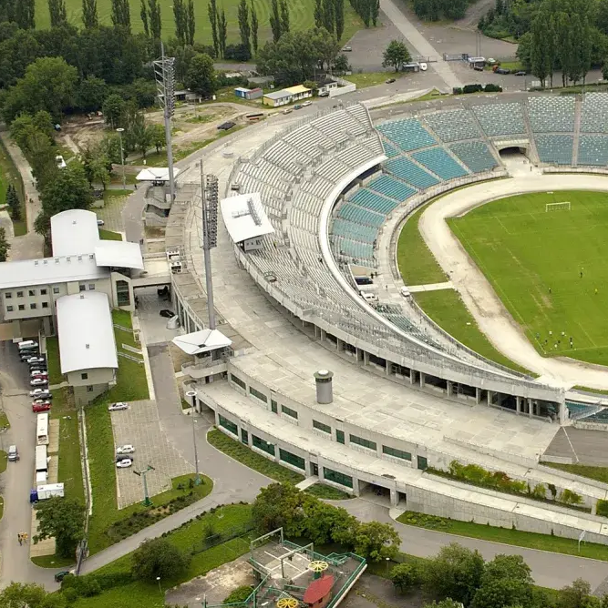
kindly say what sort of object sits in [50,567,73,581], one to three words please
vehicle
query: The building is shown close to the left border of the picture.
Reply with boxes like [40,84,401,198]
[0,208,173,393]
